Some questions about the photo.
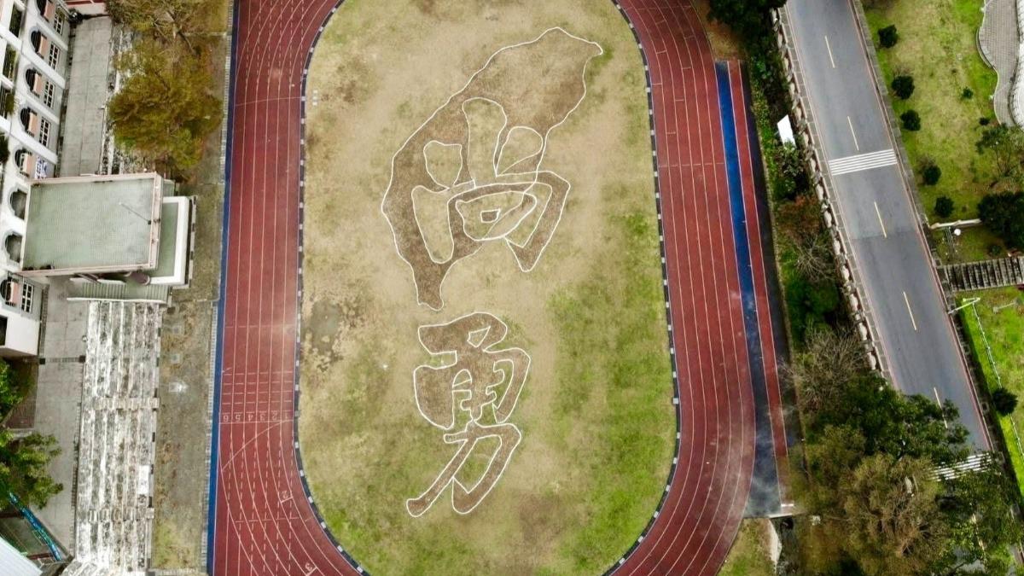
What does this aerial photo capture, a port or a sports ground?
sports ground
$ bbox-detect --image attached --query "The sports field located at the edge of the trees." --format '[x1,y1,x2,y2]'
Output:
[299,0,675,576]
